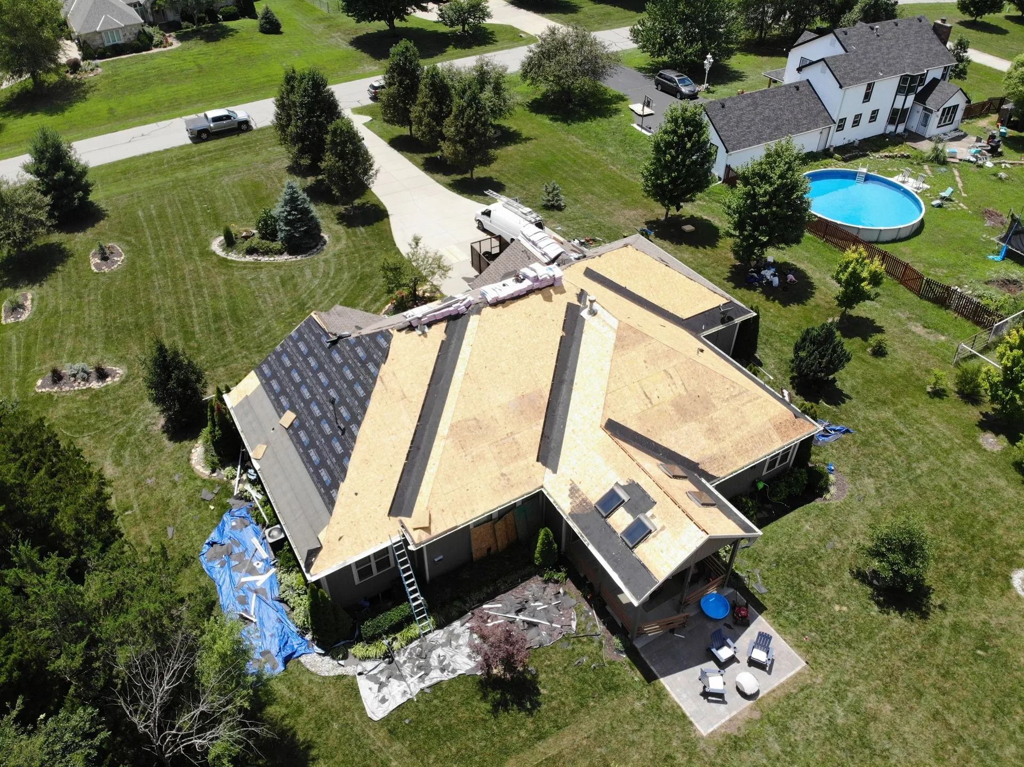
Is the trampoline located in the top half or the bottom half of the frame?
top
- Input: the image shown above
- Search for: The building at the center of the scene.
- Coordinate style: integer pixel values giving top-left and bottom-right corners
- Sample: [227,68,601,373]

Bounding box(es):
[220,232,827,650]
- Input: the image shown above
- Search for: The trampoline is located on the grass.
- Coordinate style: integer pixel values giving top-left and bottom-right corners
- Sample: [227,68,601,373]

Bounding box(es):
[993,216,1024,264]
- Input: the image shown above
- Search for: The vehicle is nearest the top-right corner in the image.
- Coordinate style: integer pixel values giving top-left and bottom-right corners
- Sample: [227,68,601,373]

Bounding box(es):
[652,69,701,100]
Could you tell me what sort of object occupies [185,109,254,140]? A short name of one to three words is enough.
truck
